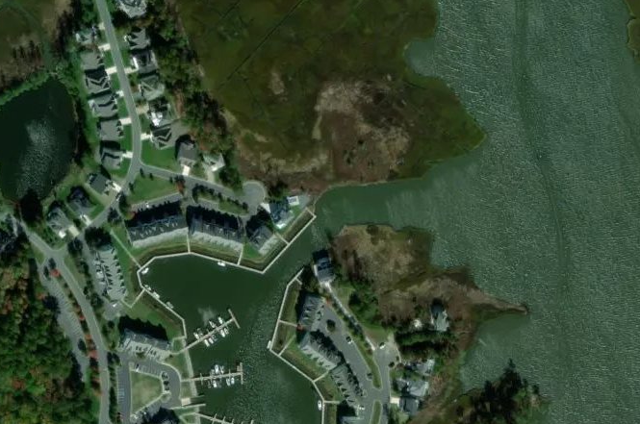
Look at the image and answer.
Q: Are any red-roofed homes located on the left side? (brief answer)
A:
No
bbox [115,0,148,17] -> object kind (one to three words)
house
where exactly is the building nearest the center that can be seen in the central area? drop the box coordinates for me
[269,197,298,229]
